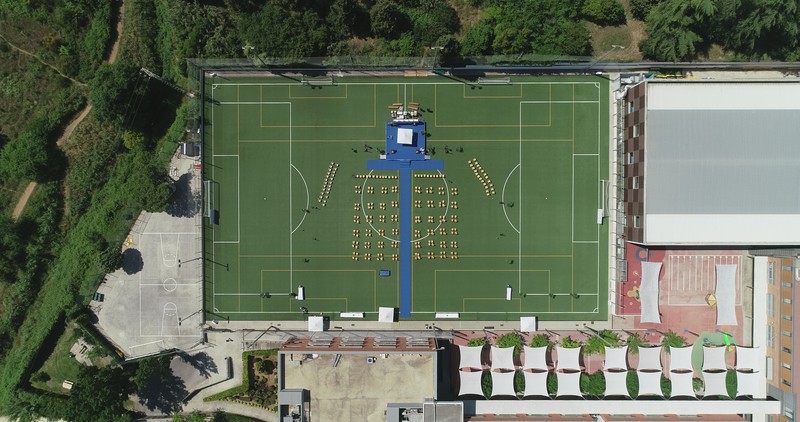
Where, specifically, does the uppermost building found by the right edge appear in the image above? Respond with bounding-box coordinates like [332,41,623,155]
[616,78,800,248]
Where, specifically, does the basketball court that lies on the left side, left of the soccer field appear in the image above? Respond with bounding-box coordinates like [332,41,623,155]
[140,233,202,337]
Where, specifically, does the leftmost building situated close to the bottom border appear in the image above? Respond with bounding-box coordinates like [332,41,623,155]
[280,337,438,422]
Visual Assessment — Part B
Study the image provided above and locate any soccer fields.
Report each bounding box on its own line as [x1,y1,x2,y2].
[205,77,609,321]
